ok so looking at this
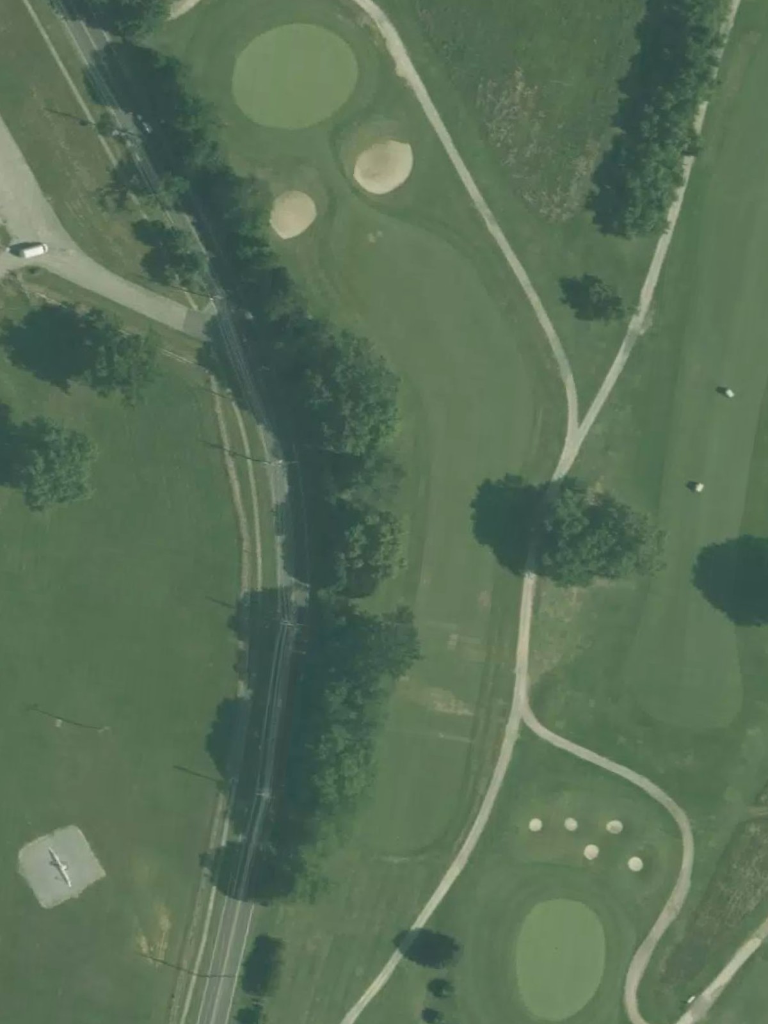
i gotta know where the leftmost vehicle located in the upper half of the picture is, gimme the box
[19,241,49,258]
